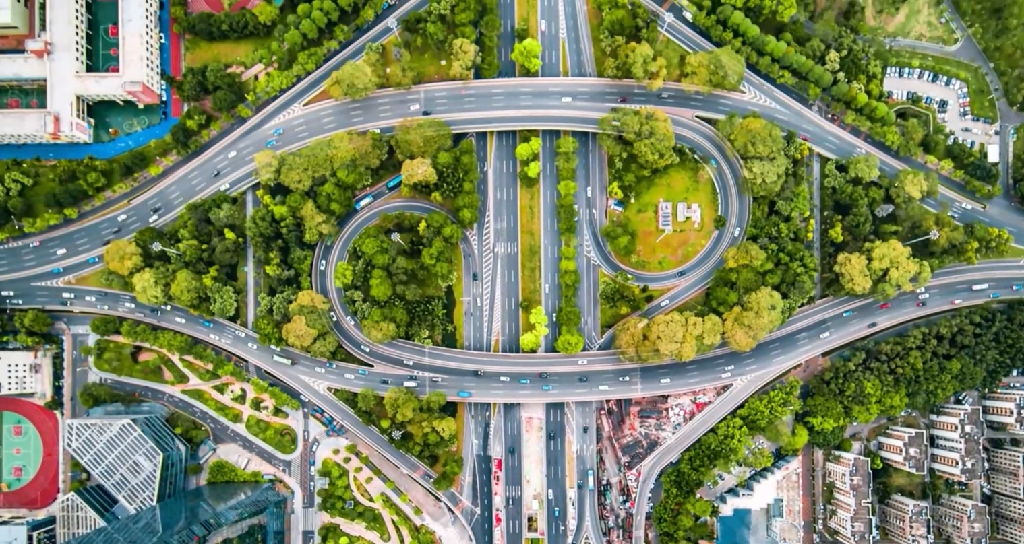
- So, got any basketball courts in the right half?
No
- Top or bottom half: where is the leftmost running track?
bottom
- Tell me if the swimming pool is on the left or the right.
right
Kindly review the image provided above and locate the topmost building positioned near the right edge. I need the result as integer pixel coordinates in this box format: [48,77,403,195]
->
[977,388,1024,434]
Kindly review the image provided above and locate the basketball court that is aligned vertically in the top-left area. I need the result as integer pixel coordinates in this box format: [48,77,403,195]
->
[94,0,120,73]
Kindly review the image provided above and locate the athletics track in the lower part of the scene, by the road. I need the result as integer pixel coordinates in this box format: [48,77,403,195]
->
[0,397,59,509]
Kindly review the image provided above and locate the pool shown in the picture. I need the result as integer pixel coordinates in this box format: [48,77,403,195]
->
[716,510,770,544]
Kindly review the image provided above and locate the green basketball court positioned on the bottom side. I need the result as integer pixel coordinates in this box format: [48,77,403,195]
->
[0,410,43,492]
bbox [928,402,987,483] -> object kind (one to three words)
building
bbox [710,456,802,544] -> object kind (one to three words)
building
